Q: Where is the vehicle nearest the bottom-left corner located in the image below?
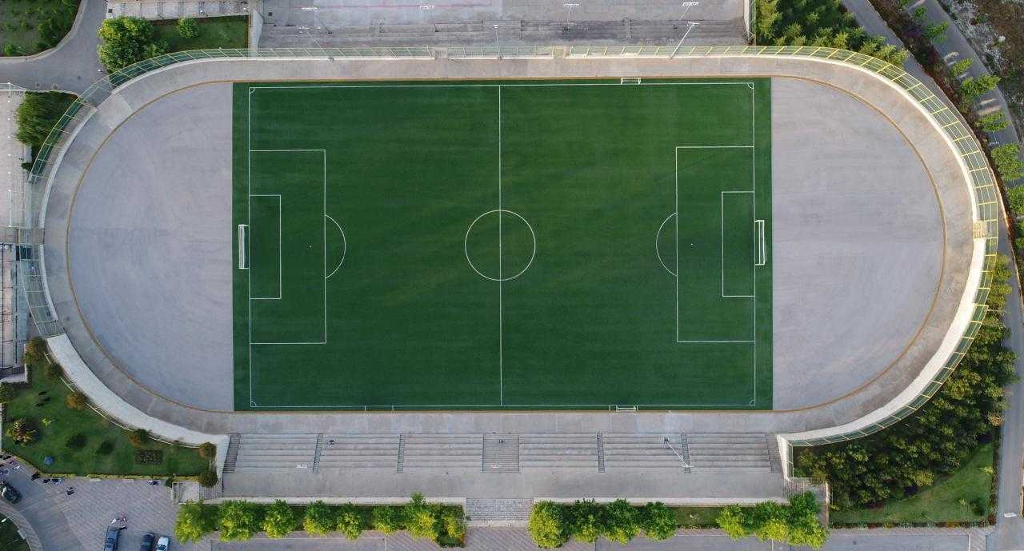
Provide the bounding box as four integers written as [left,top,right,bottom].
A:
[0,480,23,504]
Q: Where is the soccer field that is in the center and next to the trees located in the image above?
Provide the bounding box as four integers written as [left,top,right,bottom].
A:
[233,78,773,411]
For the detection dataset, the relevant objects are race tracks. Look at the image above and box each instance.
[43,57,974,434]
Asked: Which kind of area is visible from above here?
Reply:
sports ground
